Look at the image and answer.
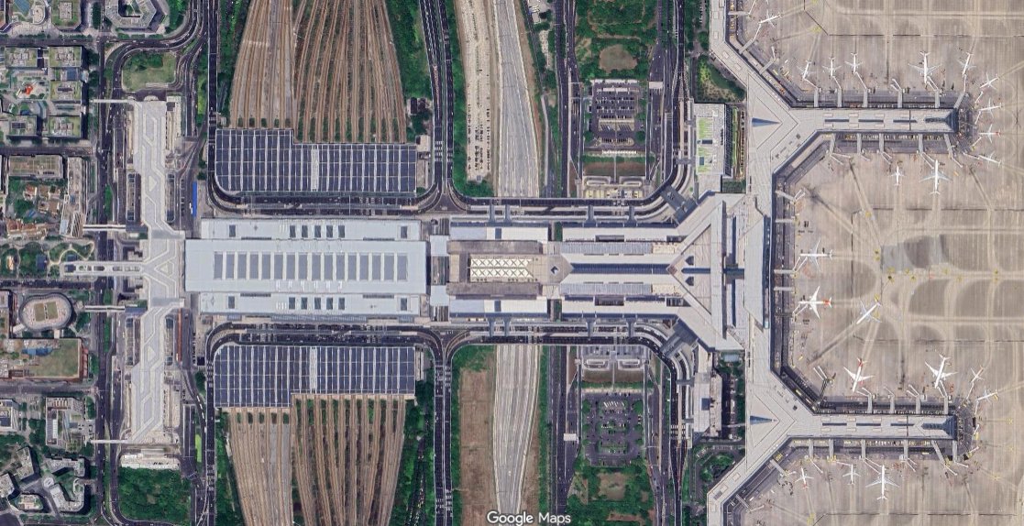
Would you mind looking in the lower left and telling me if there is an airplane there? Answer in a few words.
No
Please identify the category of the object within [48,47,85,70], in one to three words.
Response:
building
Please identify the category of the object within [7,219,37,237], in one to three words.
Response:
house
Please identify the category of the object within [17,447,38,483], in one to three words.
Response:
building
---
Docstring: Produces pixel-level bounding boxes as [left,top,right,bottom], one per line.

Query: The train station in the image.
[186,219,430,316]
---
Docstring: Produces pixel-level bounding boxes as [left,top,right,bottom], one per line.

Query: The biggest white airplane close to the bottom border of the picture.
[865,465,900,500]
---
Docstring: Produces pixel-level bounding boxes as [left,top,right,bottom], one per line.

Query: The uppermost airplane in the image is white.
[760,8,782,27]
